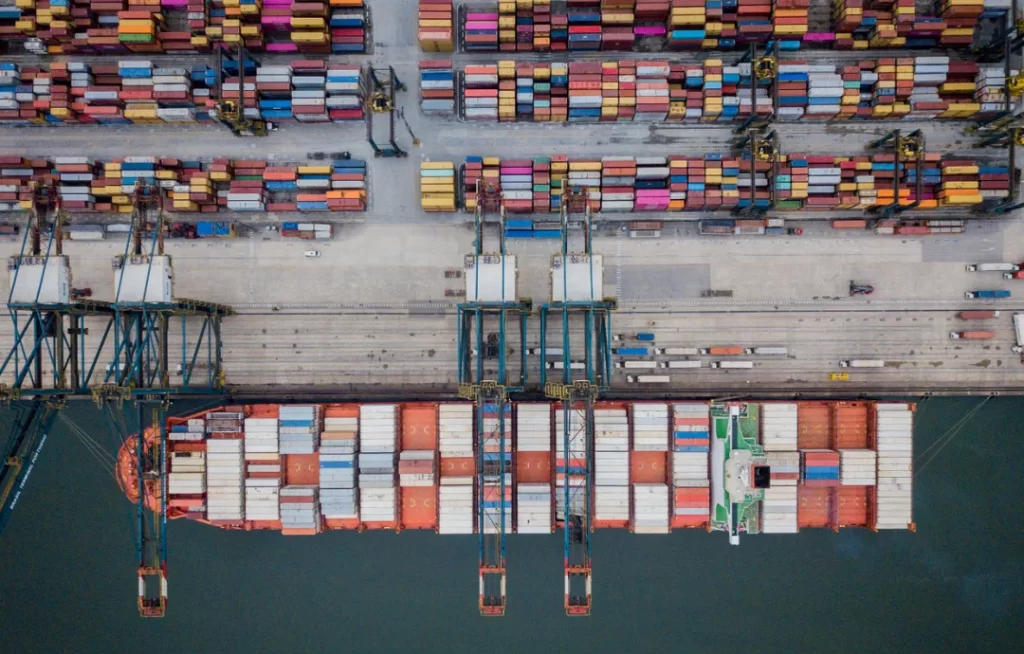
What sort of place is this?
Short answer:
port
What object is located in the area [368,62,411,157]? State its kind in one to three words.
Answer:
container crane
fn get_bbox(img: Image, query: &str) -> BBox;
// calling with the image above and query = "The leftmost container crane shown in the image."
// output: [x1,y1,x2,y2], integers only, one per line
[0,179,160,529]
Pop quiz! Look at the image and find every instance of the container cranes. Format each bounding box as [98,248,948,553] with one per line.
[967,37,1024,139]
[726,128,780,224]
[213,45,270,147]
[729,44,783,146]
[456,179,533,614]
[531,179,616,614]
[971,0,1024,51]
[0,179,160,529]
[106,179,250,614]
[972,127,1024,223]
[861,128,927,224]
[368,62,411,157]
